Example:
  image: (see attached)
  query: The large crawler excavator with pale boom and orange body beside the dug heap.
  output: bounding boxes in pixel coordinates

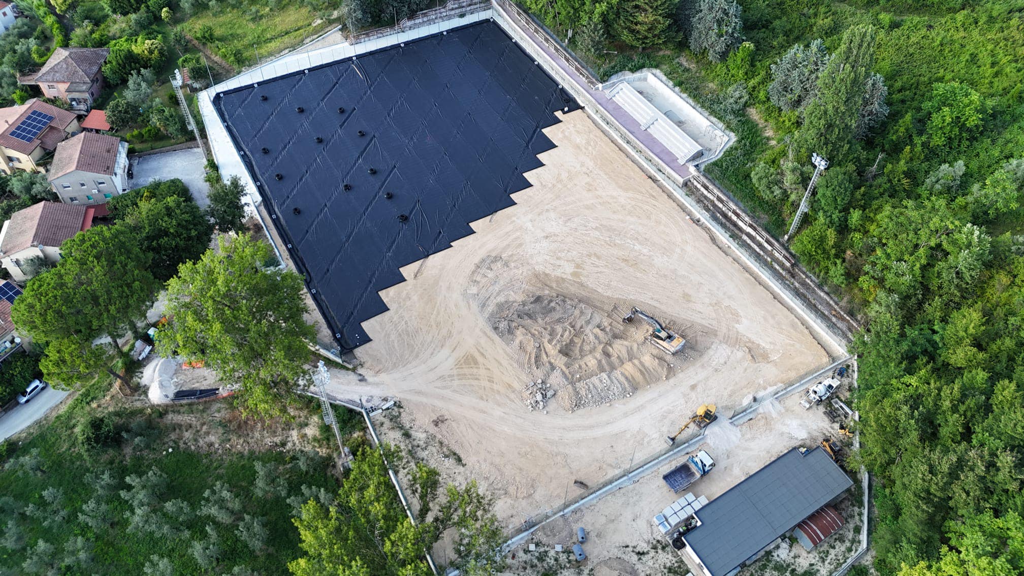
[623,302,680,351]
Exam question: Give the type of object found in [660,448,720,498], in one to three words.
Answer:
truck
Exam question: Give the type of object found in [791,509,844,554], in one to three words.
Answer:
shed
